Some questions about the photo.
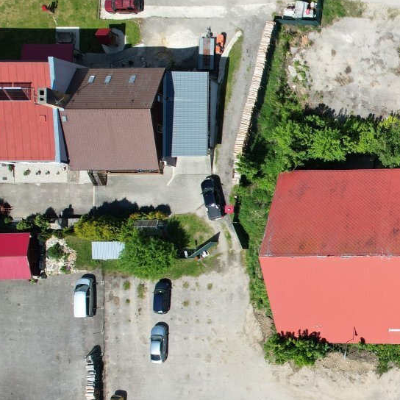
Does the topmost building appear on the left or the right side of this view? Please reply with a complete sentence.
It is on the left.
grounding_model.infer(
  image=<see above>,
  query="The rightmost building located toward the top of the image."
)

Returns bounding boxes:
[166,70,218,162]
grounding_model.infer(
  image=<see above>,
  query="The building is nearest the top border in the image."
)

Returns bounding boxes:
[95,29,122,49]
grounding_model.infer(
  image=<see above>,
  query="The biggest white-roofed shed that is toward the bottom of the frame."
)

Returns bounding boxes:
[91,241,121,260]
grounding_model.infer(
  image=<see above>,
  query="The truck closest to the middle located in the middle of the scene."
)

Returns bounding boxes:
[200,175,224,220]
